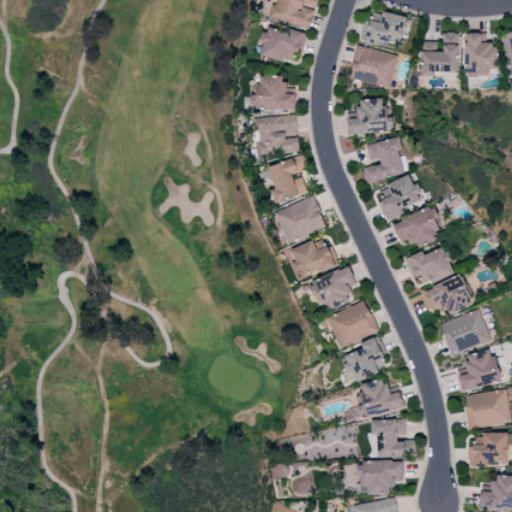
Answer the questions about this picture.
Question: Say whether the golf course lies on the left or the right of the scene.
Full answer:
The golf course appears in the left half of the scene.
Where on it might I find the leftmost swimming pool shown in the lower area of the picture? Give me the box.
[323,400,352,418]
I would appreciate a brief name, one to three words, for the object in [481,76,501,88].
swimming pool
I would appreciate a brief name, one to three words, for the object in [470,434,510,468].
house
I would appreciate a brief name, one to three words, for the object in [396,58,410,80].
swimming pool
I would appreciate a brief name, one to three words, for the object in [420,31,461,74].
house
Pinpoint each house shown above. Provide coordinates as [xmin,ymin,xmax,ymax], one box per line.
[373,420,417,458]
[352,499,400,512]
[362,10,408,46]
[275,195,328,242]
[306,266,358,310]
[380,176,422,218]
[328,302,376,348]
[344,338,388,381]
[393,206,442,245]
[442,308,494,356]
[426,276,476,315]
[466,32,499,76]
[266,0,318,28]
[292,239,340,280]
[408,248,458,286]
[250,74,296,112]
[470,434,510,468]
[360,460,405,496]
[255,114,300,154]
[481,476,512,512]
[364,136,408,182]
[362,380,406,418]
[262,26,306,61]
[269,154,310,205]
[468,390,512,429]
[351,44,398,88]
[420,31,461,74]
[348,98,396,134]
